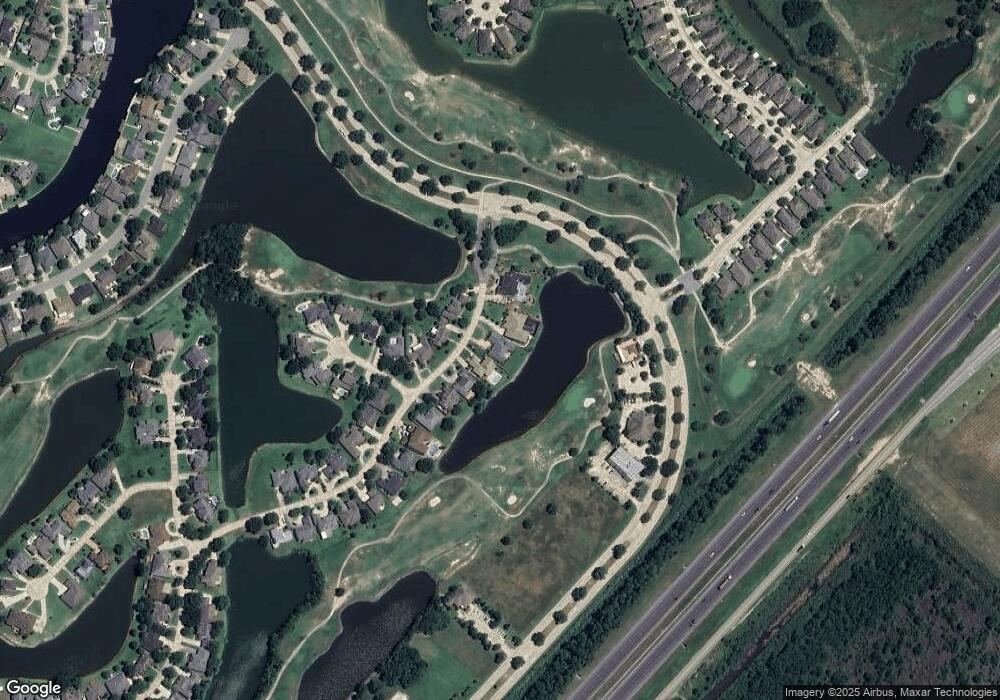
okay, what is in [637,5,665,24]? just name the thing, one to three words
house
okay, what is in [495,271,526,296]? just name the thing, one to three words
house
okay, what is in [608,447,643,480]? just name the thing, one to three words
building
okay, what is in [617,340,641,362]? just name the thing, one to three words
building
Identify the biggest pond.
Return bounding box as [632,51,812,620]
[867,37,974,171]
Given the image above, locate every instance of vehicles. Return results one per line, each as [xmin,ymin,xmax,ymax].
[827,411,840,424]
[719,576,731,590]
[786,497,798,510]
